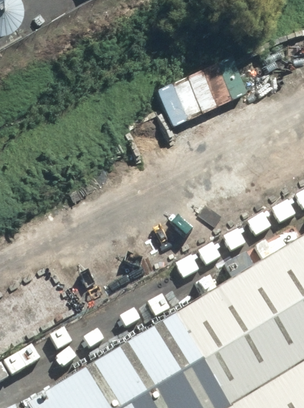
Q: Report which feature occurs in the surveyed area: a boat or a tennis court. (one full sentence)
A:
Visible in the photo is a boat.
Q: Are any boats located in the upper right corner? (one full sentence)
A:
No, there is no boat in the upper right corner.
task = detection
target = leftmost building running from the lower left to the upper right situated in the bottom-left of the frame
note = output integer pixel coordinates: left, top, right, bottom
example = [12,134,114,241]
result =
[2,344,40,376]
